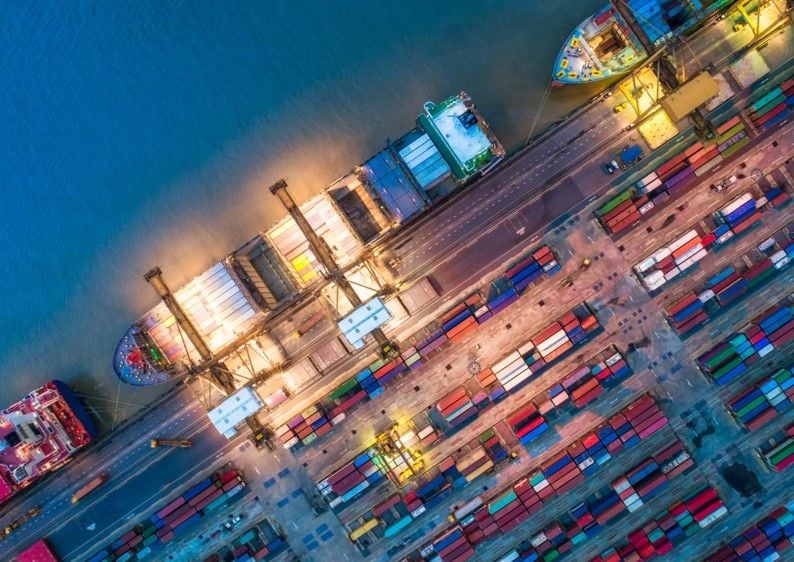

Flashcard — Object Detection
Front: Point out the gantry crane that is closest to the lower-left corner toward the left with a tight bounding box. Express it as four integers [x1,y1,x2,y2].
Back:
[142,269,286,445]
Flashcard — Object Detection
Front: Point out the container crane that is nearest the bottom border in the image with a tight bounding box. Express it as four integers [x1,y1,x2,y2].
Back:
[368,415,429,494]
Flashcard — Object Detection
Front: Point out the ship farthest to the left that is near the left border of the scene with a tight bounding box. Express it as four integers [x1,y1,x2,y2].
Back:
[0,382,106,498]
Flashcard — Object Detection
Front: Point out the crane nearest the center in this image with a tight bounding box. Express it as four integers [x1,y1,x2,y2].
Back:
[270,183,395,356]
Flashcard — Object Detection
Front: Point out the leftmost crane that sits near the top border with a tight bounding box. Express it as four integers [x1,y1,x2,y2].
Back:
[594,0,721,139]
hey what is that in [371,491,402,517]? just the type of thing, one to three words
shipping container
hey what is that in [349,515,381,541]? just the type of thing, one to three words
shipping container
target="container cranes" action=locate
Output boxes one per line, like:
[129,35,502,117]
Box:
[142,269,286,445]
[368,415,429,494]
[594,0,721,139]
[270,183,395,356]
[707,0,794,61]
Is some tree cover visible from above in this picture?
No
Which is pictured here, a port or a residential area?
port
